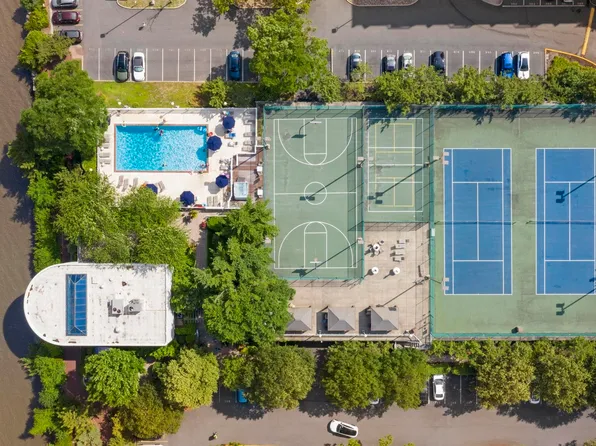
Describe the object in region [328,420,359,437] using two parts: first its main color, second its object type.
white car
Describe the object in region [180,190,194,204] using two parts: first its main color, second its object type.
blue umbrella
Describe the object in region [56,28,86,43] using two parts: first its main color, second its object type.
gray car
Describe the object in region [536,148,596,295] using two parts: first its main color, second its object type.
blue tennis court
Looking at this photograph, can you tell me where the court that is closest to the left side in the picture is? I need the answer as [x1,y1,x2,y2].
[264,109,361,278]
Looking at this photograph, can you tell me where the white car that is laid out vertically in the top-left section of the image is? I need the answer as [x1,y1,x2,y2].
[132,51,145,82]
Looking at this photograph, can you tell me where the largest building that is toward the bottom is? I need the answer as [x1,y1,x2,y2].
[23,259,174,352]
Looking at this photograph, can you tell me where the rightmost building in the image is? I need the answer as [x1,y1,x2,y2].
[370,305,398,332]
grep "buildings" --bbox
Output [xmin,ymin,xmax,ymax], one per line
[23,259,174,352]
[327,305,355,332]
[370,305,398,332]
[285,305,312,332]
